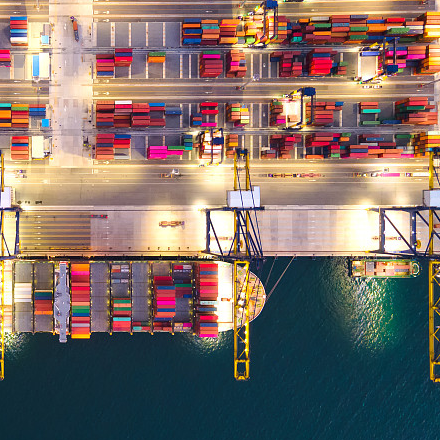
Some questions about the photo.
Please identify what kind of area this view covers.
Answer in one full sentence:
The picture captures a port.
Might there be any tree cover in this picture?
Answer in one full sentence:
No, no tree cover is visible.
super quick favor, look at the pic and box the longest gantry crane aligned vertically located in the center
[196,148,267,382]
